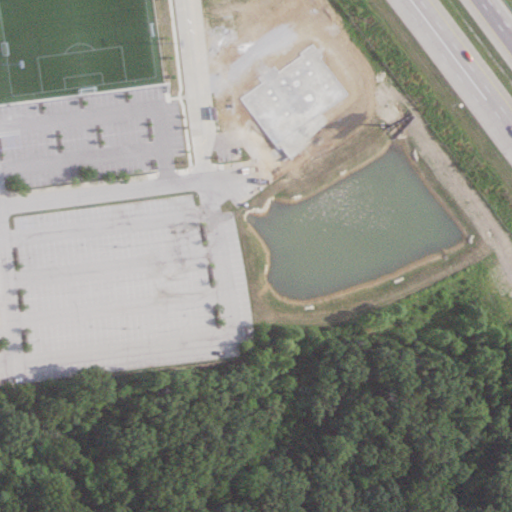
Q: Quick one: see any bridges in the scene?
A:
No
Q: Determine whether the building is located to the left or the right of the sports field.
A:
right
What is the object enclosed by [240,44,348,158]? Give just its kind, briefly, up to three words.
building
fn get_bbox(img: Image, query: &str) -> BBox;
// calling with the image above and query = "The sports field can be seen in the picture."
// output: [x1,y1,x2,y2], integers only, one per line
[0,0,162,102]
